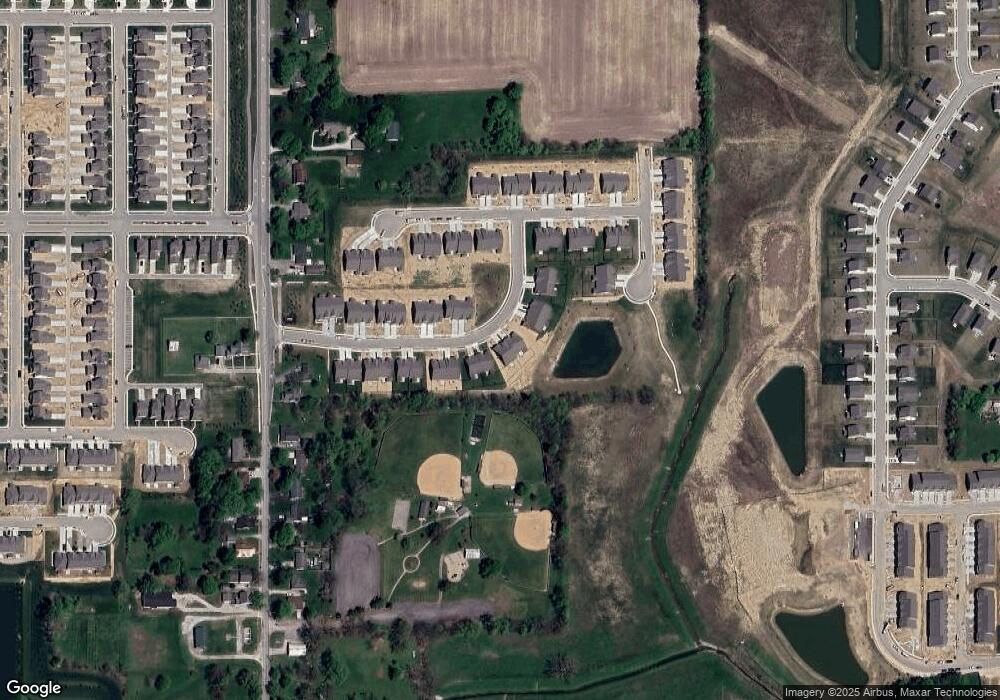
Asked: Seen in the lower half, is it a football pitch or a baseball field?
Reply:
baseball field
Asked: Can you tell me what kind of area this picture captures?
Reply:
residential area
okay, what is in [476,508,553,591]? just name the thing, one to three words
baseball field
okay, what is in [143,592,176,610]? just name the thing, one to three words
barn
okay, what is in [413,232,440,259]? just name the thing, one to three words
house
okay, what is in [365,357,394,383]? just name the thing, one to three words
house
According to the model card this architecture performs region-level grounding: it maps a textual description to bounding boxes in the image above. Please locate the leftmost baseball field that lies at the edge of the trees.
[374,411,465,502]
